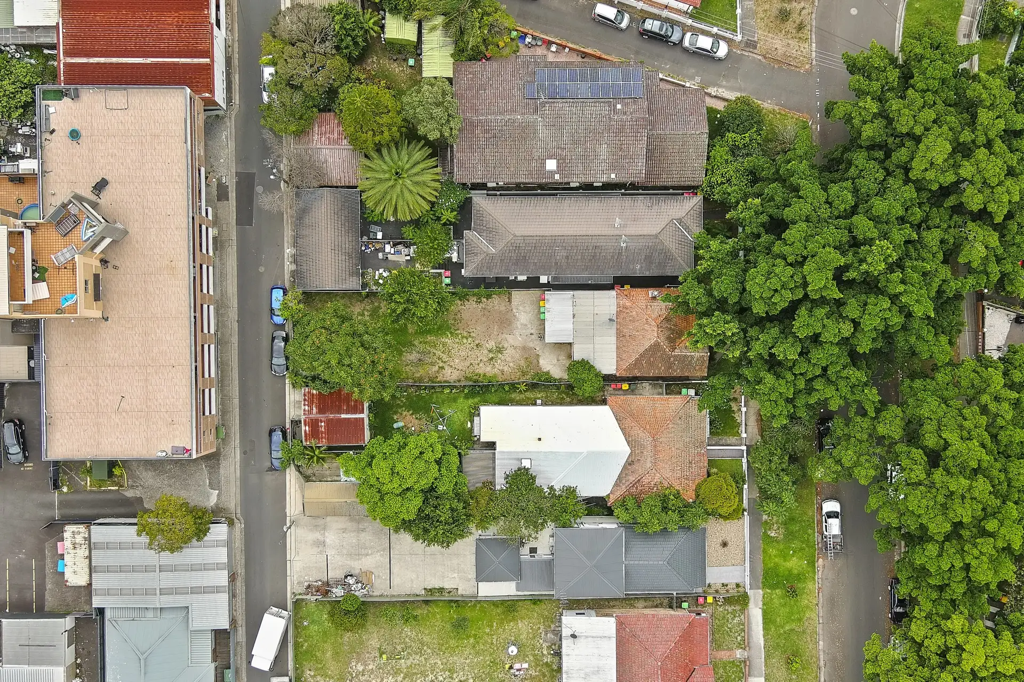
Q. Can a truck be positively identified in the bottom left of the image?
Yes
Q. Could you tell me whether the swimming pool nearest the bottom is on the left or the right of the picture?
left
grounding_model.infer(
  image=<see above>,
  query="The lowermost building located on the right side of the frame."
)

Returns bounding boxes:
[562,605,713,682]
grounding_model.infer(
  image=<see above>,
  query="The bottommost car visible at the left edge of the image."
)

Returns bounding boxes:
[3,417,30,463]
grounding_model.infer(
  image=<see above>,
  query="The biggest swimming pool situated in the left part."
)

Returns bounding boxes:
[14,200,41,220]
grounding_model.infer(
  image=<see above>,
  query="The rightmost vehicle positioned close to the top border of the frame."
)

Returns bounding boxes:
[681,34,728,60]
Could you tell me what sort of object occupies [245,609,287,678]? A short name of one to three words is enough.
truck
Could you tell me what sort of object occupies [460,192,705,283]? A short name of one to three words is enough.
house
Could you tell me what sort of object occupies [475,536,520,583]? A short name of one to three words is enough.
building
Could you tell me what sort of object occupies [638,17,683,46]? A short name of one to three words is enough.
car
